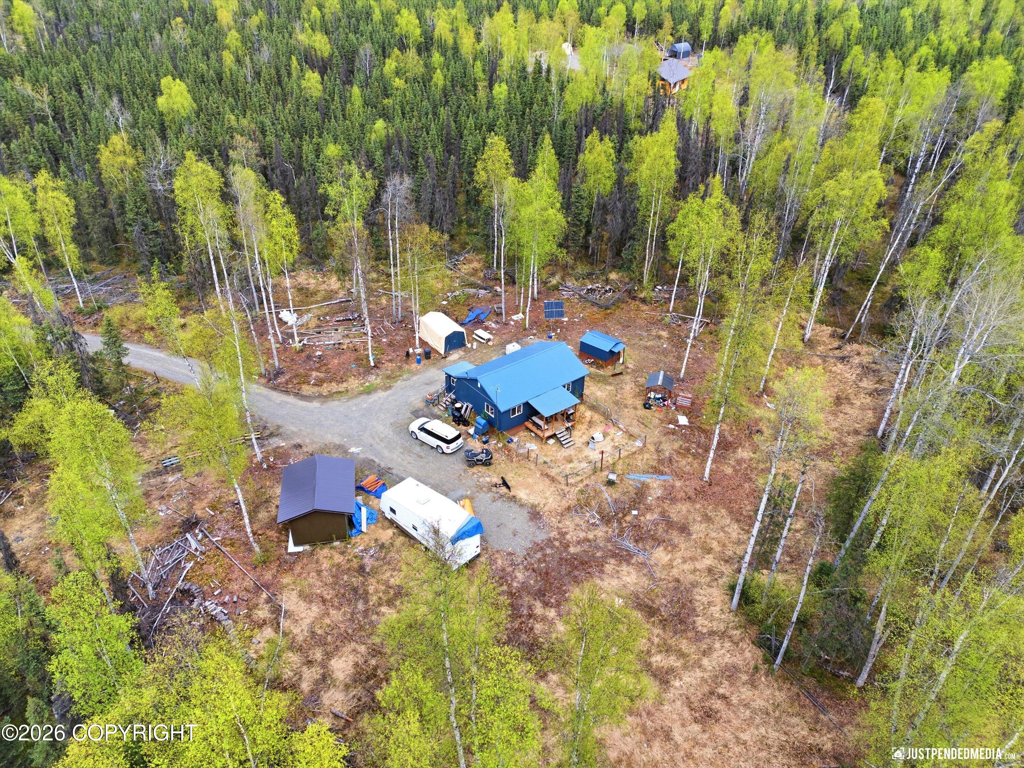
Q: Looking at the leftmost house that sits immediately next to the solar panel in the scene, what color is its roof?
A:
blue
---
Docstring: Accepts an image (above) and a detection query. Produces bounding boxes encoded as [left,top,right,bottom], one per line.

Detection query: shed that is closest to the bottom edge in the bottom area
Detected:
[277,455,355,549]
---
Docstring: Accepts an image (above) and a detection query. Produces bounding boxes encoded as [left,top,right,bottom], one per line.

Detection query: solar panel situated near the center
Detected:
[542,302,562,331]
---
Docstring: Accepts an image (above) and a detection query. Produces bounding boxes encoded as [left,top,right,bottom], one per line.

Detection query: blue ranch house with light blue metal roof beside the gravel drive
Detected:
[438,342,590,448]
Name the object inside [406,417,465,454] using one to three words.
car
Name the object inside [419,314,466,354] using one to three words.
shed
